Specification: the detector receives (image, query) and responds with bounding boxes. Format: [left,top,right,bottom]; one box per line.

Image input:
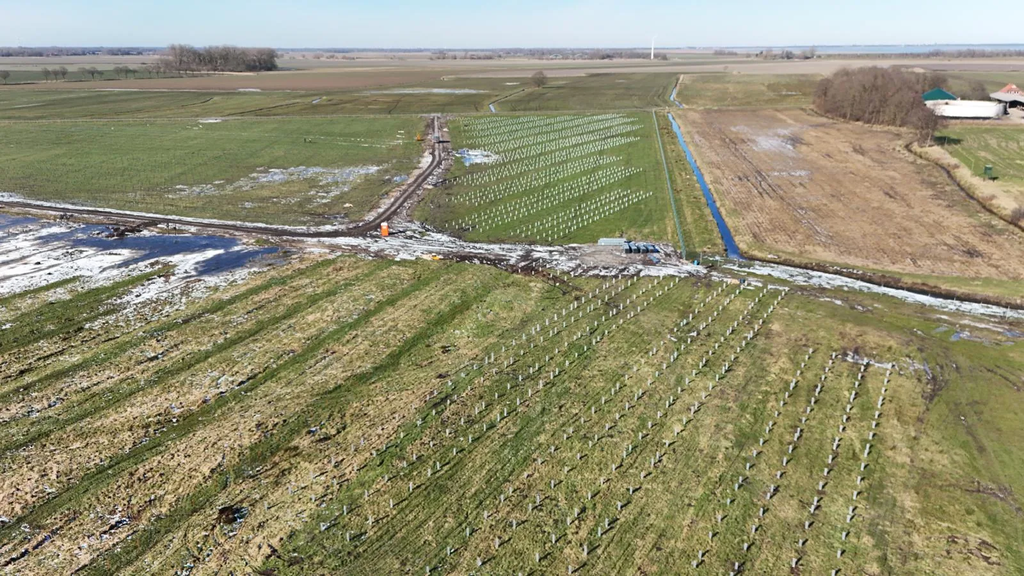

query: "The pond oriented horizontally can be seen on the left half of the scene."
[0,217,285,279]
